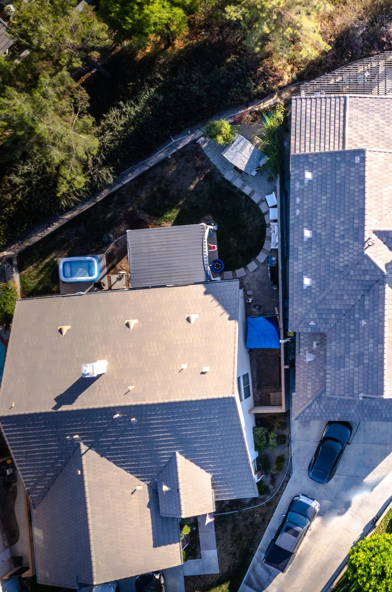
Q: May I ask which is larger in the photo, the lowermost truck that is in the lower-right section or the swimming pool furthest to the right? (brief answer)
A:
the truck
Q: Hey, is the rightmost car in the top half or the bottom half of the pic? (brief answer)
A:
bottom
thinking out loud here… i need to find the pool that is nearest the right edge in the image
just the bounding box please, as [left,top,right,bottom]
[55,255,98,283]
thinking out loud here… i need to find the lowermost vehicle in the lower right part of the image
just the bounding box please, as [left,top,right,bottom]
[258,493,321,583]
